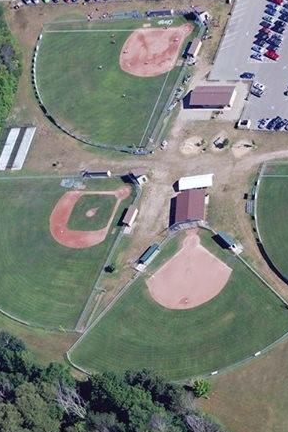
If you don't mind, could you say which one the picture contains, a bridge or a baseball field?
baseball field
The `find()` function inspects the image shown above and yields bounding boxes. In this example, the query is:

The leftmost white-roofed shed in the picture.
[0,128,21,172]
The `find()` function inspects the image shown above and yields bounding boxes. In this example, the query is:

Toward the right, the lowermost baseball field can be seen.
[67,222,288,382]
